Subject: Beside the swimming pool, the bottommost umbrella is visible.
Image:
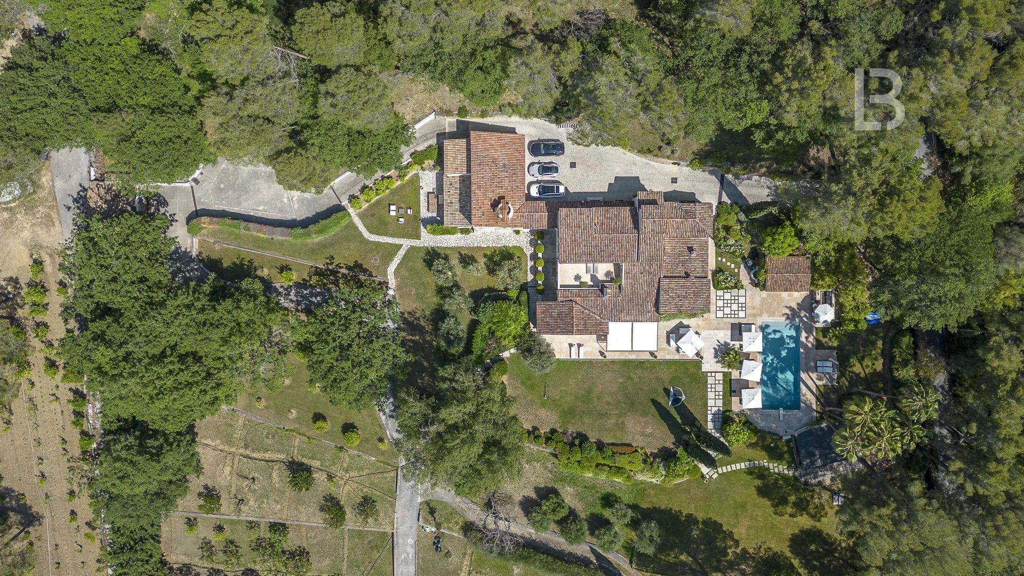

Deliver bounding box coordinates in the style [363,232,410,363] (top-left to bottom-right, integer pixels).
[741,388,762,409]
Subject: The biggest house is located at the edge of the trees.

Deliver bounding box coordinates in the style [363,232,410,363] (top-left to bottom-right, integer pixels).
[536,191,714,335]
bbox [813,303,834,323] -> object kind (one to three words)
umbrella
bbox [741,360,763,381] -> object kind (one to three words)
umbrella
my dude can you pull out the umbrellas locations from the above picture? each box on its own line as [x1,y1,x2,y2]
[676,329,705,358]
[813,303,834,323]
[741,360,763,381]
[742,332,762,352]
[741,388,762,409]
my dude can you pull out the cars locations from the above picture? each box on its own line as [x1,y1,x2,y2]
[528,161,561,178]
[530,139,566,157]
[530,181,566,199]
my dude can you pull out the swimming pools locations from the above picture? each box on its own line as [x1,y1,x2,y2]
[760,320,804,413]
